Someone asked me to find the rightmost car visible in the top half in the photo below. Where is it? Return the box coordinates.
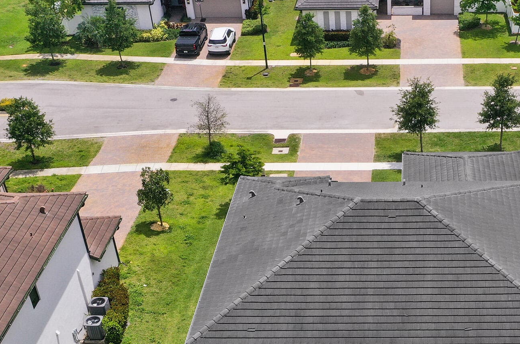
[208,23,238,50]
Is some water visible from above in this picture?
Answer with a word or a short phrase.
No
